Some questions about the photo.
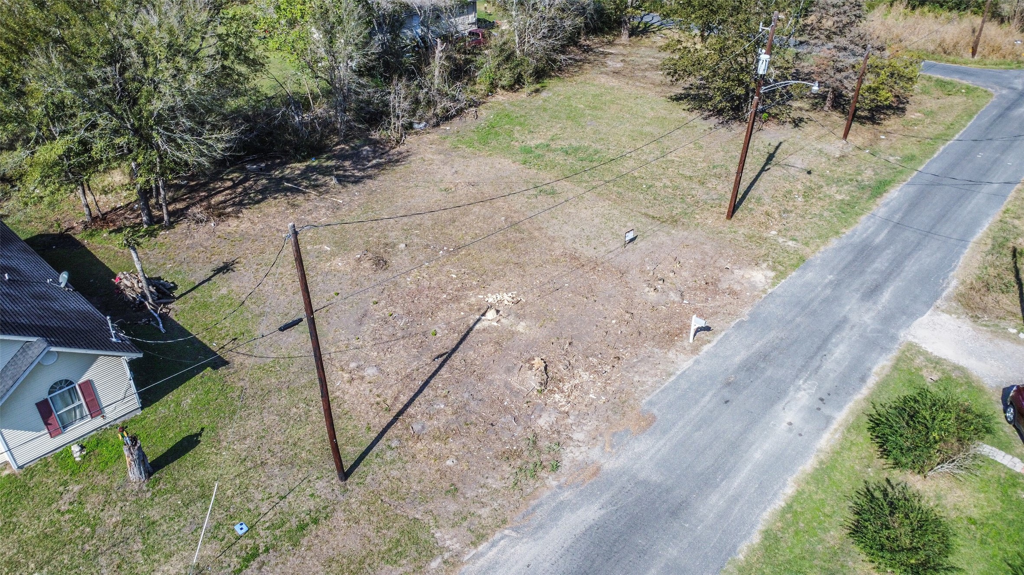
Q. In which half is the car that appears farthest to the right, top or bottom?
bottom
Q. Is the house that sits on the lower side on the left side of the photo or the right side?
left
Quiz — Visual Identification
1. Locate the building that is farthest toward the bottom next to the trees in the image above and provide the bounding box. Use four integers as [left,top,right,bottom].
[0,223,144,470]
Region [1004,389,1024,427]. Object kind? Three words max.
car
